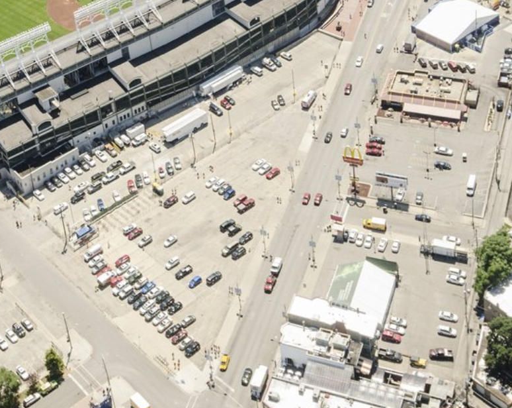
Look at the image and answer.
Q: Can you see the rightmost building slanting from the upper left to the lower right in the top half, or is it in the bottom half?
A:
bottom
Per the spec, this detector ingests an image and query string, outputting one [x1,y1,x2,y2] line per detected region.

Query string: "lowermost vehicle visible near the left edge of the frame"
[23,393,41,407]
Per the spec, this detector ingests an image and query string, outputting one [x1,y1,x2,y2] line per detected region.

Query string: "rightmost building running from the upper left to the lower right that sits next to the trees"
[473,372,511,408]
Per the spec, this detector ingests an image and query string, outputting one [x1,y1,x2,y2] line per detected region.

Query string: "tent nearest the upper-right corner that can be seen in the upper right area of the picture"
[412,0,498,55]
